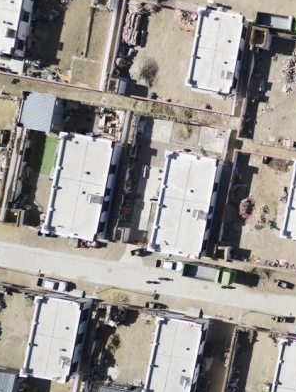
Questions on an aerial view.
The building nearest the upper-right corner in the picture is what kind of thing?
house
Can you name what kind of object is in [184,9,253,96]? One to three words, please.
house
